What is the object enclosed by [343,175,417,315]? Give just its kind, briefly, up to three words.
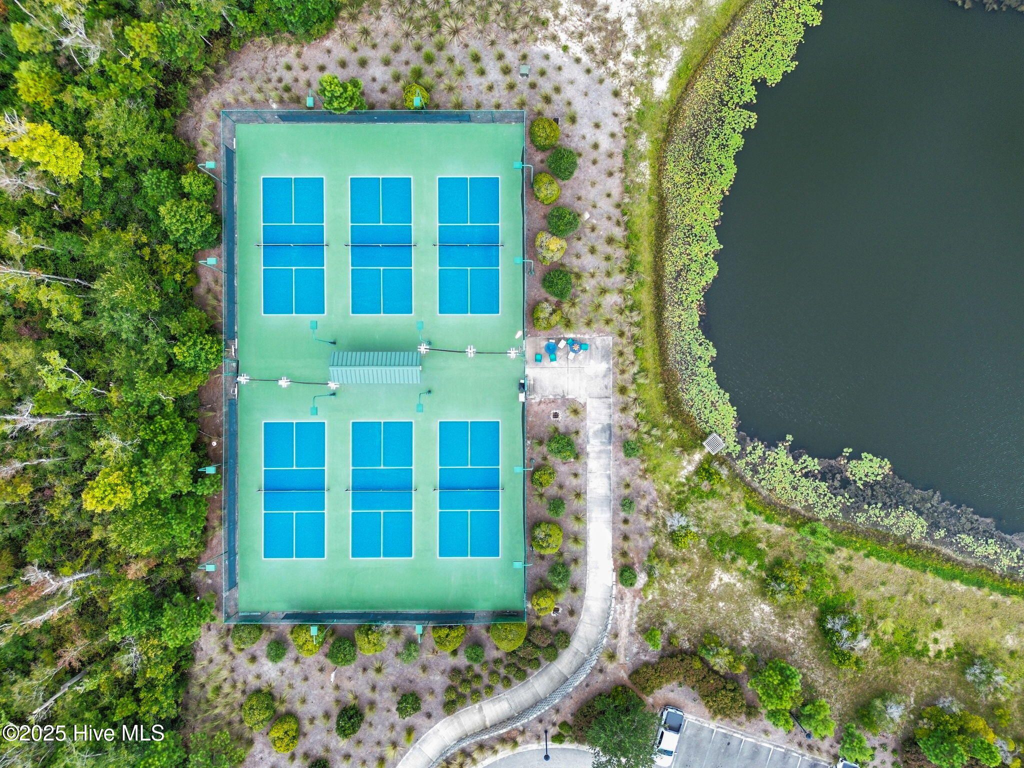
sports court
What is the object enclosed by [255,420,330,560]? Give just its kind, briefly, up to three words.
sports court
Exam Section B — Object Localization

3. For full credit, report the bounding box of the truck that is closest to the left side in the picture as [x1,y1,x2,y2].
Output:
[648,698,687,762]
